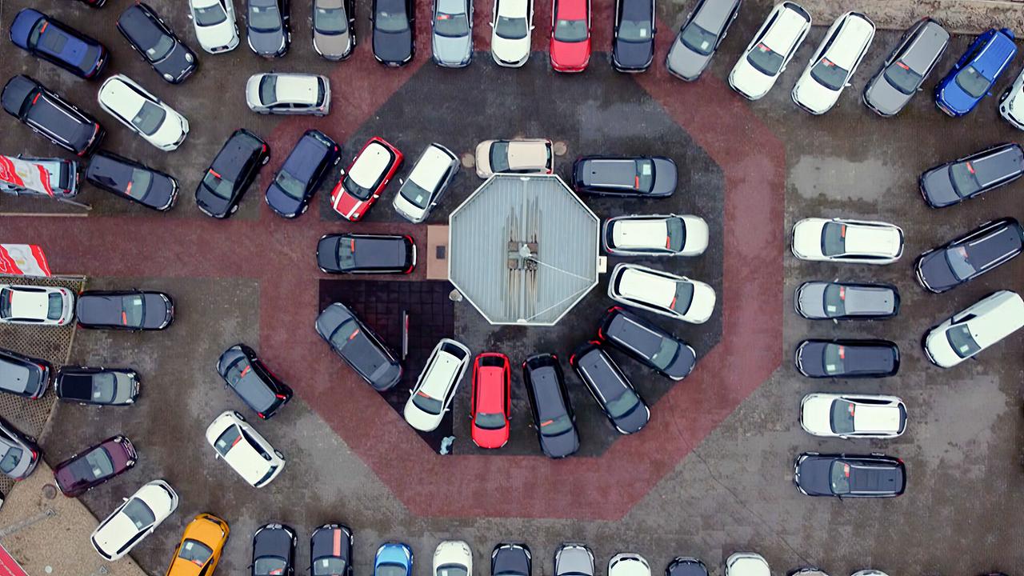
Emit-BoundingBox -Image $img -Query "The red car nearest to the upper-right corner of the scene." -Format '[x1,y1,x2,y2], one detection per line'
[547,0,595,73]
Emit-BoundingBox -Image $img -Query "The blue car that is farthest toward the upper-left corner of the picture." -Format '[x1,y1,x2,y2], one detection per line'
[12,12,112,80]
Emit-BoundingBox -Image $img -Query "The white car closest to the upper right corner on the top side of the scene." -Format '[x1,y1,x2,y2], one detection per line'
[995,64,1024,125]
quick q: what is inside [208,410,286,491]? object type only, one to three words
car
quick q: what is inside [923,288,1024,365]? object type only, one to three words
van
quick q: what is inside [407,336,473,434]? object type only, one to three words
car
